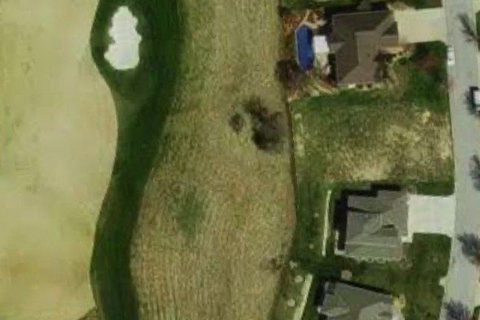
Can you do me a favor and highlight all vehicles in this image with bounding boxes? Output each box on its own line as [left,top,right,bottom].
[473,90,480,113]
[446,46,455,66]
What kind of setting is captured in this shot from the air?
golf course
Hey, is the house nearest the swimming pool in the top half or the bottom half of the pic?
top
